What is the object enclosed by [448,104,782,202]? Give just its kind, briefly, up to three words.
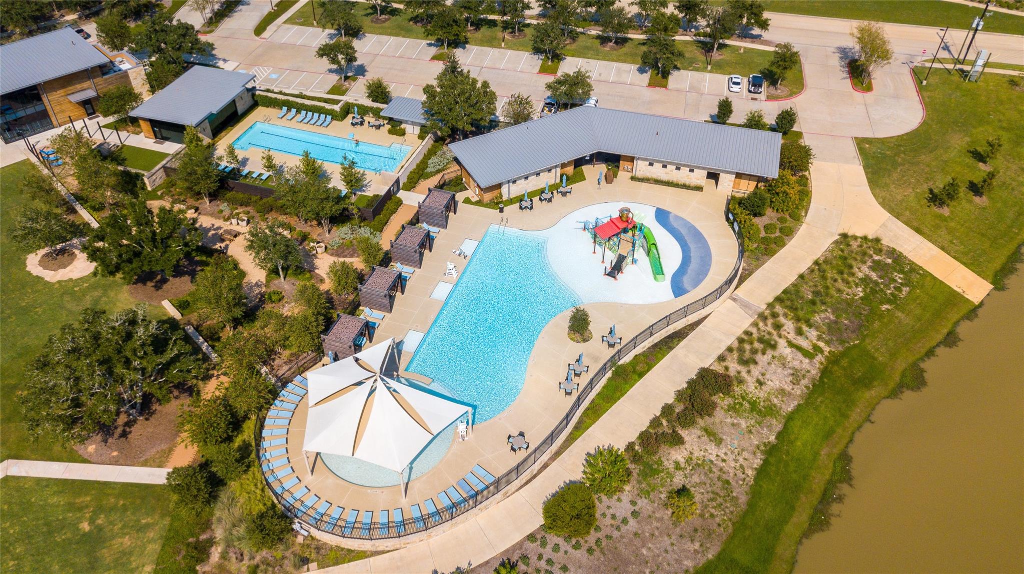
building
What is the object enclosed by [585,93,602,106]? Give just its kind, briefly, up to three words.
vehicle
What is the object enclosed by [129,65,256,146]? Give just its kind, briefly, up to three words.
building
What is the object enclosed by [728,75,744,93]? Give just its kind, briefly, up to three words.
car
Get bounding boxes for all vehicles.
[748,75,764,93]
[66,18,89,36]
[585,93,602,106]
[538,95,559,117]
[728,75,744,93]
